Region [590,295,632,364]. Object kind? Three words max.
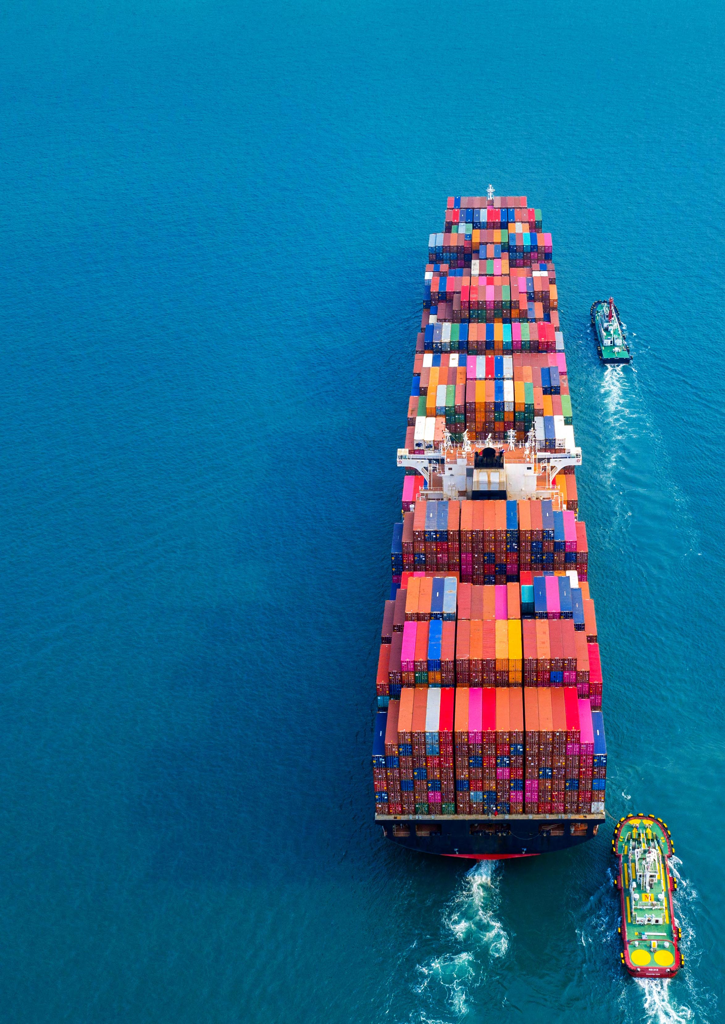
boat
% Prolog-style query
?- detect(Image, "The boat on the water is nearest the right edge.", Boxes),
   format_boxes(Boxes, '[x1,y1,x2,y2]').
[612,812,684,978]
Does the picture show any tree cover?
No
